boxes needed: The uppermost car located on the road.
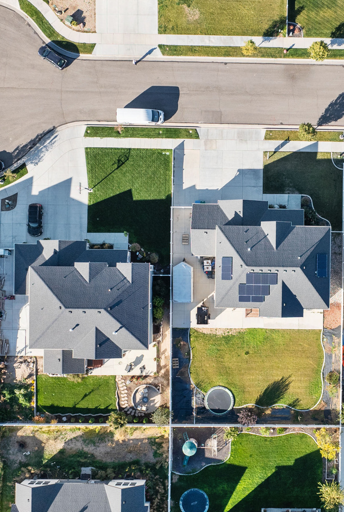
[36,44,71,70]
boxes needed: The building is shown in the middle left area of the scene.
[10,239,155,376]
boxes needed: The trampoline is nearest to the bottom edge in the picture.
[179,487,209,512]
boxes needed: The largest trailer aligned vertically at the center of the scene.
[174,253,194,302]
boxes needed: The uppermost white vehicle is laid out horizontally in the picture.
[115,106,164,126]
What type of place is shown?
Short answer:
residential area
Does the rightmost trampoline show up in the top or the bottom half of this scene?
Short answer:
bottom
